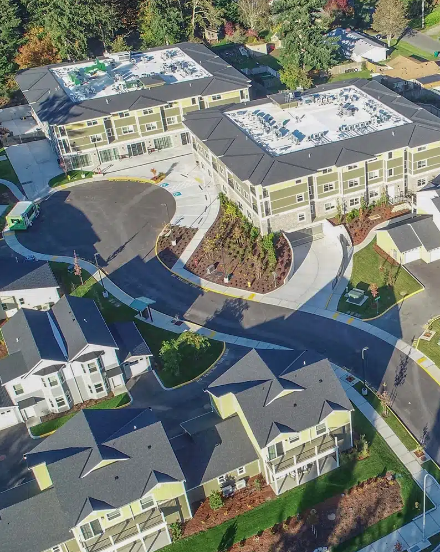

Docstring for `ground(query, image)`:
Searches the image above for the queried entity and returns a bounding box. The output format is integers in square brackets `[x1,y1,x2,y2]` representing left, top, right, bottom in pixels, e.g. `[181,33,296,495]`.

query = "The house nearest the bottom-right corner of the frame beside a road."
[167,346,355,505]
